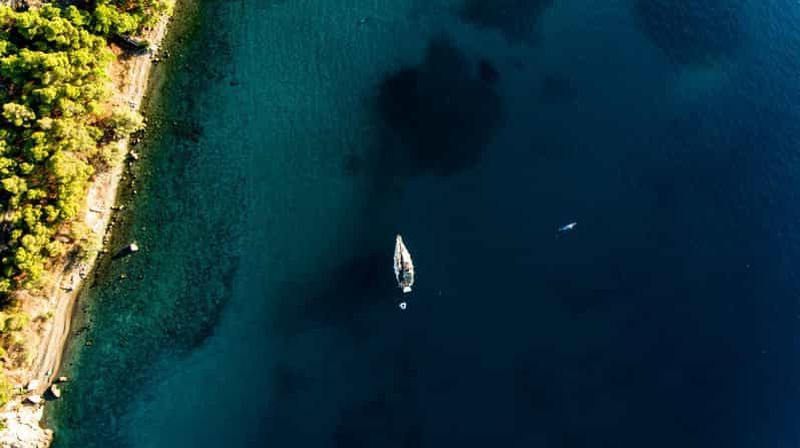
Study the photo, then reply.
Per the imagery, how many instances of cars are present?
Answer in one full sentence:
There are no cars in the image.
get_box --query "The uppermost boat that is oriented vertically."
[393,234,414,293]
